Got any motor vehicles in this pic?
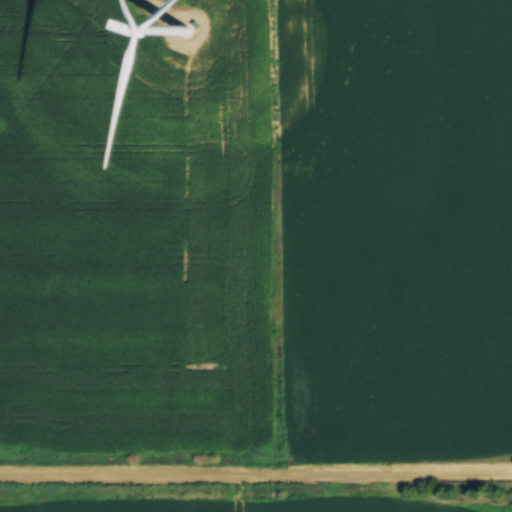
No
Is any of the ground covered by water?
No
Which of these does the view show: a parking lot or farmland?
farmland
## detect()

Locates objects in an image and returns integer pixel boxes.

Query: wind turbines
[104,0,196,168]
